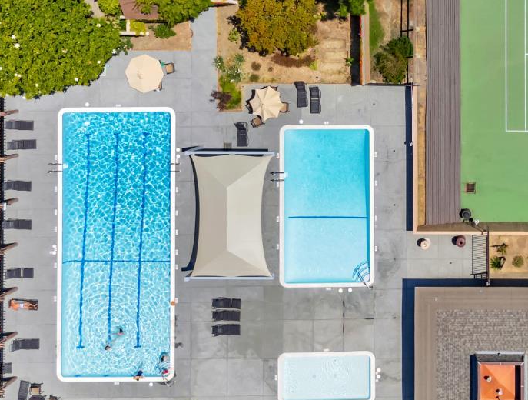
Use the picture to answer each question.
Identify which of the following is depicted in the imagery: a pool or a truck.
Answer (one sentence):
There is a pool in the scene.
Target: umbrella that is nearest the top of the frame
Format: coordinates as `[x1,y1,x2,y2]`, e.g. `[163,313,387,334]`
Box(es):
[127,55,164,91]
